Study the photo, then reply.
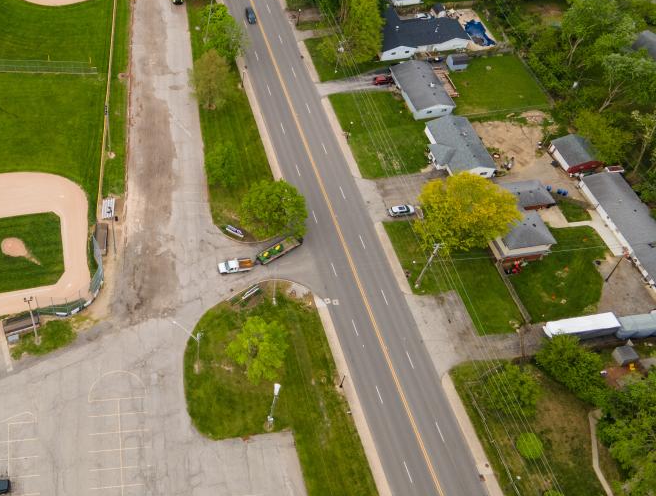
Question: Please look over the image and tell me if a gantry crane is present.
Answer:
No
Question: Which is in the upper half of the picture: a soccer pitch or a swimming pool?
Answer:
swimming pool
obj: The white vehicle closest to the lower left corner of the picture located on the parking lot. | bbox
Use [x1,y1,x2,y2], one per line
[219,260,250,274]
